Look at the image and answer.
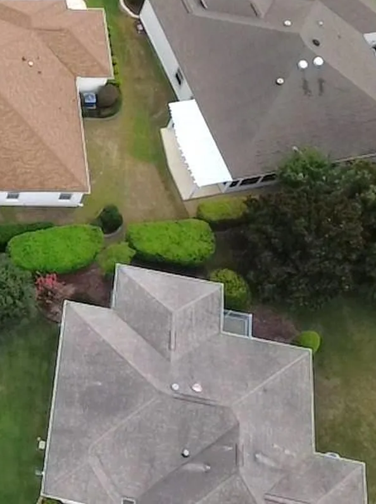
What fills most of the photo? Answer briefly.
buildings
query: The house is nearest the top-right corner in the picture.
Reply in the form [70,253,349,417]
[142,0,376,202]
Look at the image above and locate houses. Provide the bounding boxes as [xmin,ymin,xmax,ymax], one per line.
[0,0,115,212]
[142,0,376,202]
[40,263,368,504]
